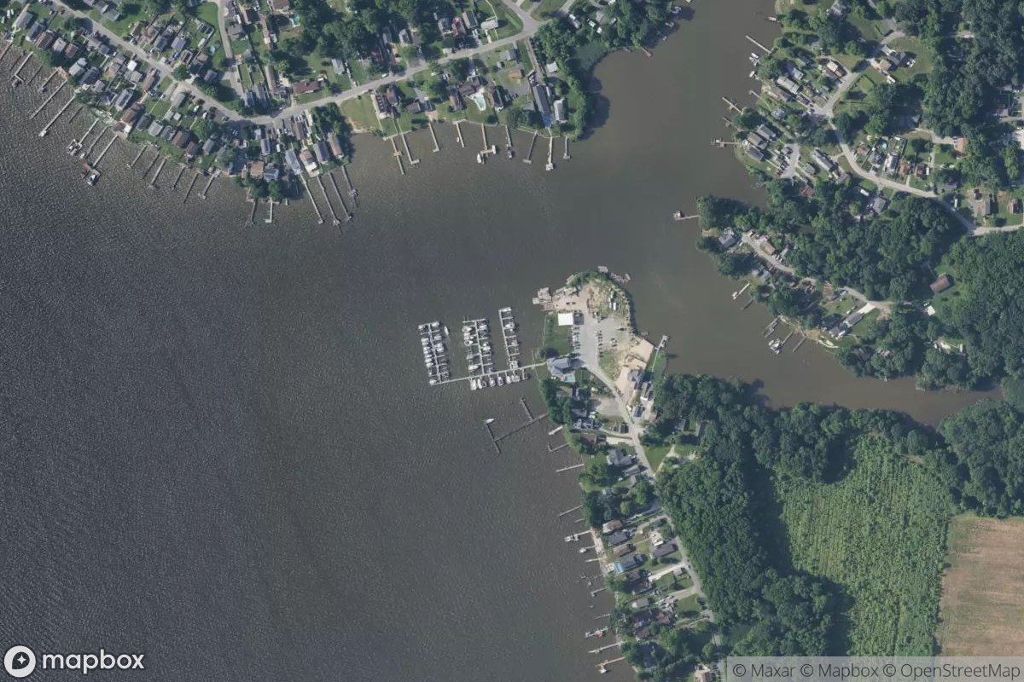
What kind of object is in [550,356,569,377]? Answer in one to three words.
building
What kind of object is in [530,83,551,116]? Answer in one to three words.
house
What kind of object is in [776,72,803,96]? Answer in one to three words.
house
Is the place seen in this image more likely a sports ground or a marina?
marina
